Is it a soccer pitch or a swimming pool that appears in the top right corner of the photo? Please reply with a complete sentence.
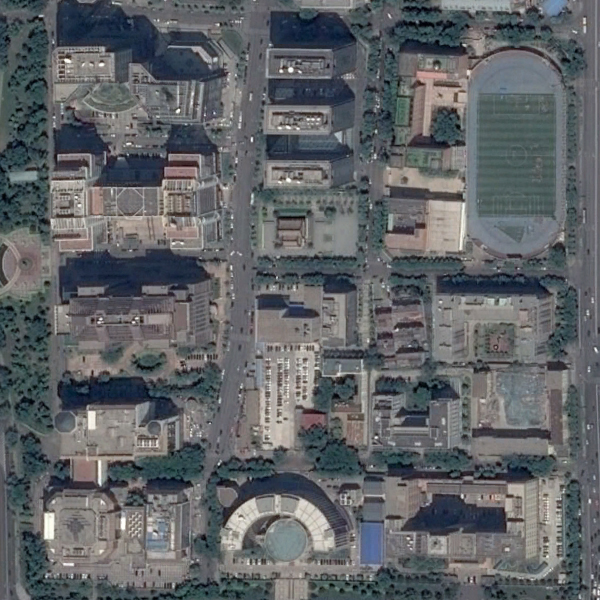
Looking in the top right corner of the photo, you will find a soccer pitch.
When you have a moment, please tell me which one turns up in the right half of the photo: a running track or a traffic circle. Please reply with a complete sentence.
The one visible in the right half of the photo is a running track.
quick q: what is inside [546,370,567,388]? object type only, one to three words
shed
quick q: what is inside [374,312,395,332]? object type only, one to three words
house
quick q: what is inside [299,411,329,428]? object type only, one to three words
house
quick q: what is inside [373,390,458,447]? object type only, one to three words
building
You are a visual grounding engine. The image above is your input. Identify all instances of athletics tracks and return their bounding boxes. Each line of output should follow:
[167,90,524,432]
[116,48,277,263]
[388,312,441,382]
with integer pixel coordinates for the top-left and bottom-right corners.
[468,48,565,257]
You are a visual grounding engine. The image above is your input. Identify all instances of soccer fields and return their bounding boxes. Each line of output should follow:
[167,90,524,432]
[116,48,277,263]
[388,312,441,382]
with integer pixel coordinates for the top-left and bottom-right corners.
[477,94,554,216]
